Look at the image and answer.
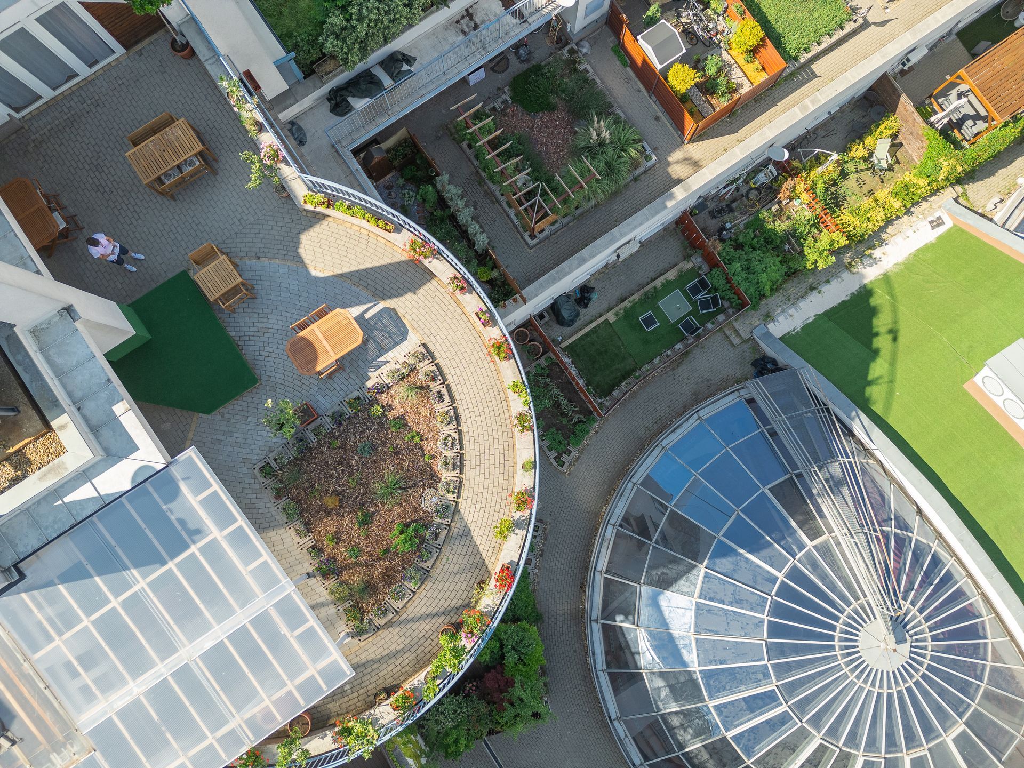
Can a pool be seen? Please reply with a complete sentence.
No, no pool can be seen from above.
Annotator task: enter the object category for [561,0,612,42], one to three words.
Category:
house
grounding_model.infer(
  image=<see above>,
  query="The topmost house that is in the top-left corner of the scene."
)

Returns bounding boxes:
[0,0,206,120]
